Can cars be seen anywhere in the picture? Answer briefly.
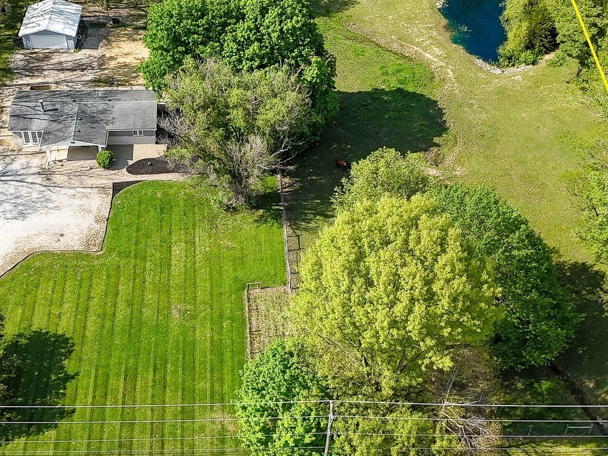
No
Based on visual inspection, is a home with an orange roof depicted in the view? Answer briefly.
No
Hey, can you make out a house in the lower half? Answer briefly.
No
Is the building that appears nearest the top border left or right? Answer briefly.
left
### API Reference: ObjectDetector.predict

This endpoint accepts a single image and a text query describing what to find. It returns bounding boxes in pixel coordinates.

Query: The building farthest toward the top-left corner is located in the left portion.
[21,0,83,50]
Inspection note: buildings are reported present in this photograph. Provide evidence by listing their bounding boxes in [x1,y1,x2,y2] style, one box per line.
[7,90,161,171]
[21,0,83,50]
